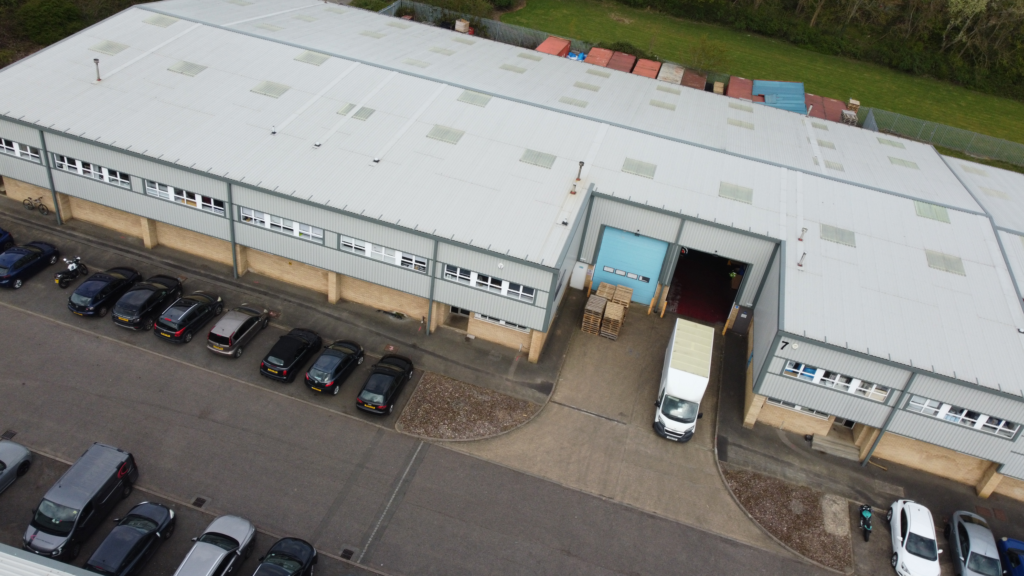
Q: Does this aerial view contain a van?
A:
Yes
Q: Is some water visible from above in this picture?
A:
No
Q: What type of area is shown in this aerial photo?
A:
industrial area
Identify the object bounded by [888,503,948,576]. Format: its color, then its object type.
white car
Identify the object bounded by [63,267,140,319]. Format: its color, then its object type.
black car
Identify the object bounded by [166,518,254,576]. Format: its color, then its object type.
gray car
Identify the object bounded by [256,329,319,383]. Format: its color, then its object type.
black car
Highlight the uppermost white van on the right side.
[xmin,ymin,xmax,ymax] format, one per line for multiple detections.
[650,317,716,439]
